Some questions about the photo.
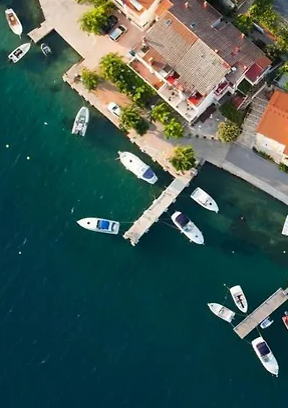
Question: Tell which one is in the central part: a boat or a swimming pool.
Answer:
boat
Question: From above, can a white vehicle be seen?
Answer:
Yes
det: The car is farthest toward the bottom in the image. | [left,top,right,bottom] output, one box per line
[107,101,123,119]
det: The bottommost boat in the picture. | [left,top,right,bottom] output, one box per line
[252,338,277,377]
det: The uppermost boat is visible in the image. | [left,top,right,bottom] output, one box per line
[4,8,23,36]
